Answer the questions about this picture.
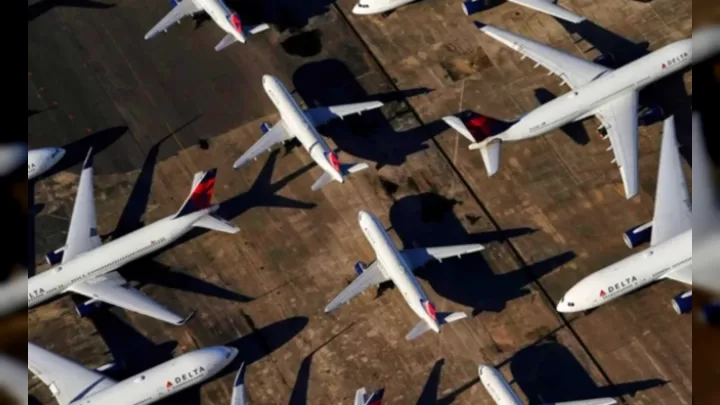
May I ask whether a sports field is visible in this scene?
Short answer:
No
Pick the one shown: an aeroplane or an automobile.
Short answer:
aeroplane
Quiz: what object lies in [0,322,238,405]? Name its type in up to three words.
airplane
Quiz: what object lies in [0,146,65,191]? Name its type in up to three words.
airplane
